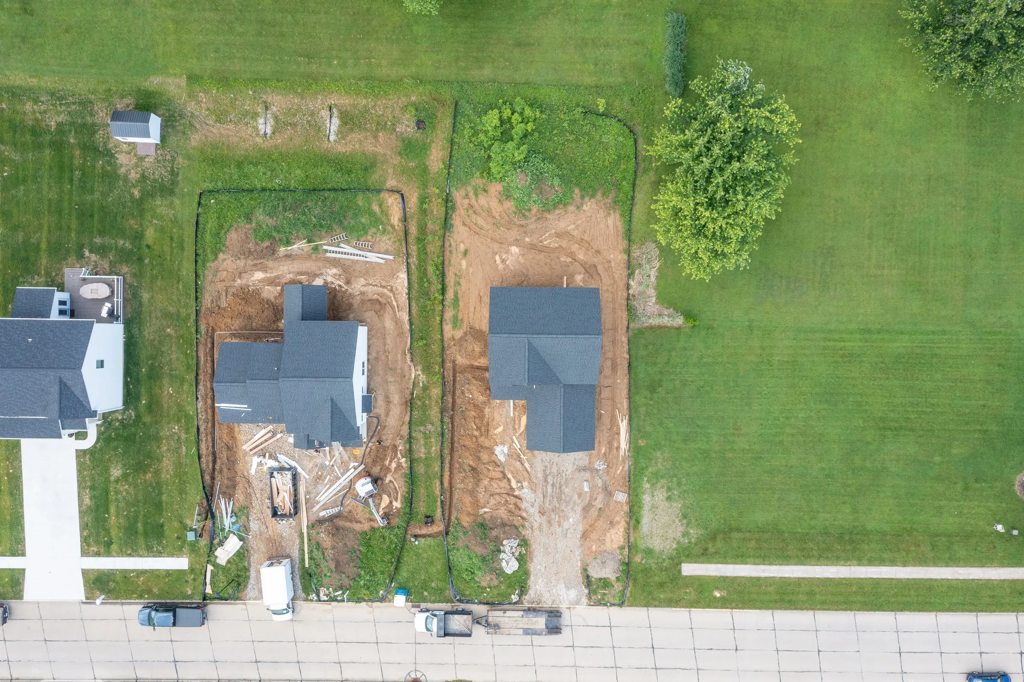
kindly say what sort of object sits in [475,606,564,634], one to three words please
trailer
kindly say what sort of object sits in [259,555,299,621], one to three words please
truck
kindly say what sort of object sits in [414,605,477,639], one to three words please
truck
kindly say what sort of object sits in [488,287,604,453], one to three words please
house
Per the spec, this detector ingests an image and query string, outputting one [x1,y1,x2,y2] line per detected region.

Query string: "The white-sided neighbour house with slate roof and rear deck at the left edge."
[0,287,128,439]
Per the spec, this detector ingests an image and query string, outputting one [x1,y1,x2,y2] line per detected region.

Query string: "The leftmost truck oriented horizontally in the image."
[139,599,210,630]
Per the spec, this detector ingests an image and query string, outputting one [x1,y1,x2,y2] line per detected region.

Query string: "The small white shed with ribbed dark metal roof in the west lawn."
[106,109,161,155]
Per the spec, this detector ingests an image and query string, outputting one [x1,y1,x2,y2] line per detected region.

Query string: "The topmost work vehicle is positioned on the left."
[352,471,389,526]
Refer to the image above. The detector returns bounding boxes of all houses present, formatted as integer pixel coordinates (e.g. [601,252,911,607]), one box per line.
[214,284,374,450]
[488,287,604,453]
[0,287,128,439]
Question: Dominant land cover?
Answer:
grass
